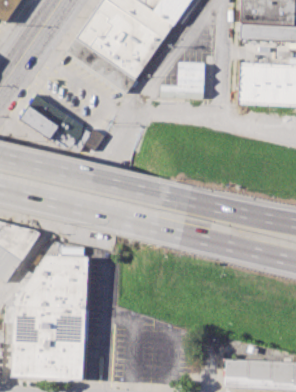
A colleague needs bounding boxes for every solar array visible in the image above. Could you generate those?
[56,317,82,341]
[16,318,38,341]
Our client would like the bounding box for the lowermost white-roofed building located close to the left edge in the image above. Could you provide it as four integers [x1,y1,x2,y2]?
[10,256,90,381]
